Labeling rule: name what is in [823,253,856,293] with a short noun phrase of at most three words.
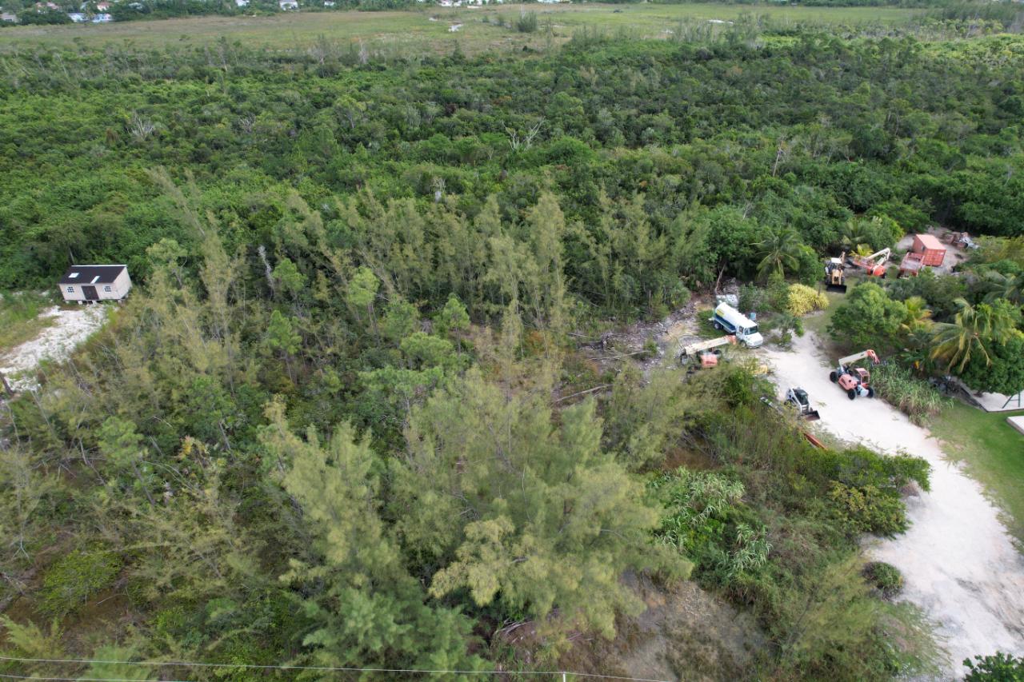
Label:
work vehicle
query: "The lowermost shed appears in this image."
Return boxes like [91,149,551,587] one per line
[53,260,131,306]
